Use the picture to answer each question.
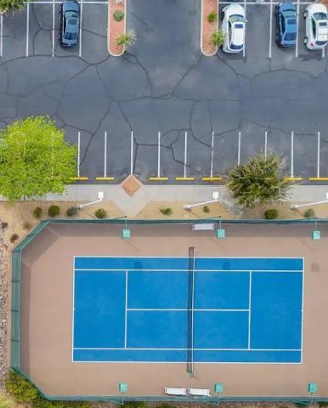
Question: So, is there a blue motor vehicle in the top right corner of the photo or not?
Yes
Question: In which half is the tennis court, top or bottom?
bottom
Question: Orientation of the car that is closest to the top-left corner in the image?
vertically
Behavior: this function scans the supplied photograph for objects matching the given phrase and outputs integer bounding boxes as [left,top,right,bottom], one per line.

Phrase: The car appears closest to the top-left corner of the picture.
[58,1,81,49]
